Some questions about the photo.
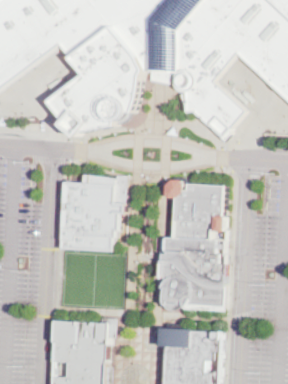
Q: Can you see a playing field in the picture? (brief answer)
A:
Yes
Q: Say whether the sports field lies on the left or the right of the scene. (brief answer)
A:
left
